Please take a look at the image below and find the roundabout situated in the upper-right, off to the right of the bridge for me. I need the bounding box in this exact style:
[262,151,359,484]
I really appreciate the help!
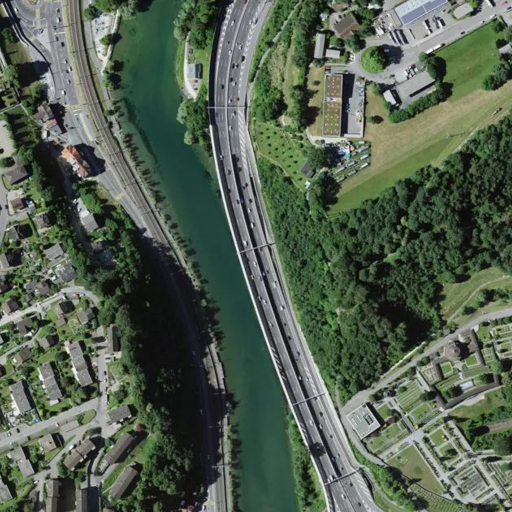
[354,39,396,82]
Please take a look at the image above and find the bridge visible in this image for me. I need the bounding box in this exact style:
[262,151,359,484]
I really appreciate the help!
[209,0,354,512]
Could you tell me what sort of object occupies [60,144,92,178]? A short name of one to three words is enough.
house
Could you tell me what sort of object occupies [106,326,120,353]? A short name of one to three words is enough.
house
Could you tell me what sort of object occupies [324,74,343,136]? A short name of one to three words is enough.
building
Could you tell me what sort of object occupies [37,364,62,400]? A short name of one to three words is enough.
building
